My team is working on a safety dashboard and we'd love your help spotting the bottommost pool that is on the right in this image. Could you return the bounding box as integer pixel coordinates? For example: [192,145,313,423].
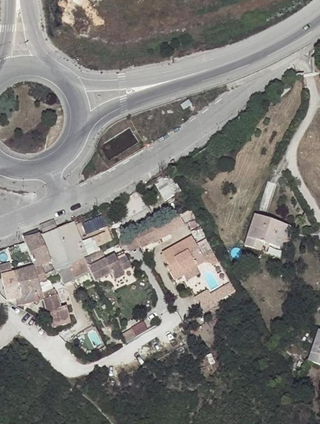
[204,270,220,292]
